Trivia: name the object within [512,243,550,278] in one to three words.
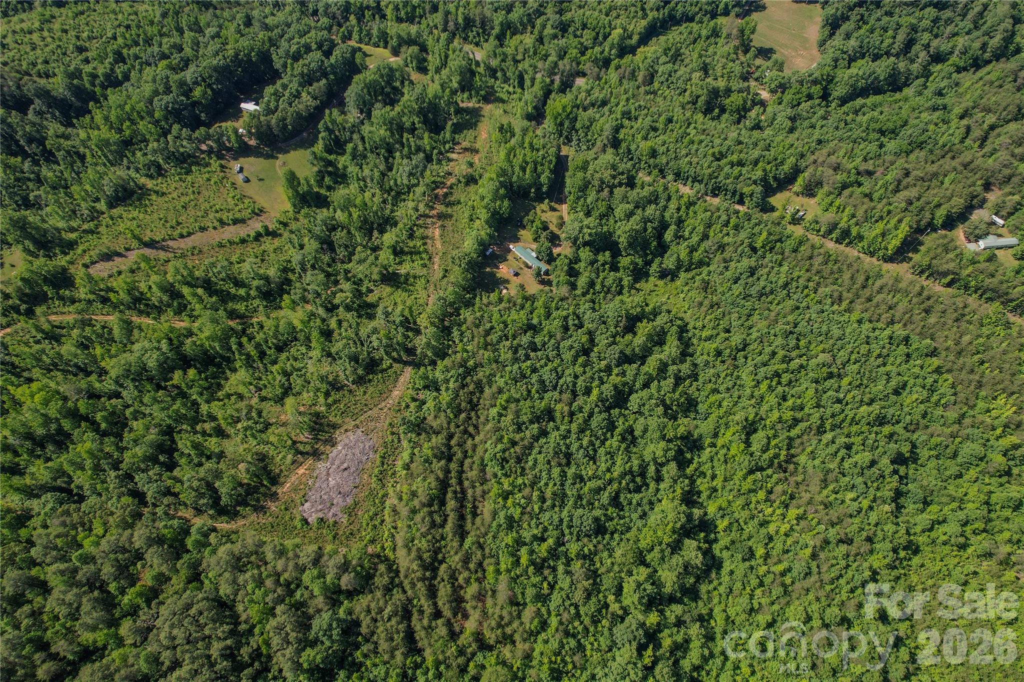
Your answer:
house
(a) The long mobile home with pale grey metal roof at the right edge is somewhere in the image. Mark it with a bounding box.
[965,232,1021,253]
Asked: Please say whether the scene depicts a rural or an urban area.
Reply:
rural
